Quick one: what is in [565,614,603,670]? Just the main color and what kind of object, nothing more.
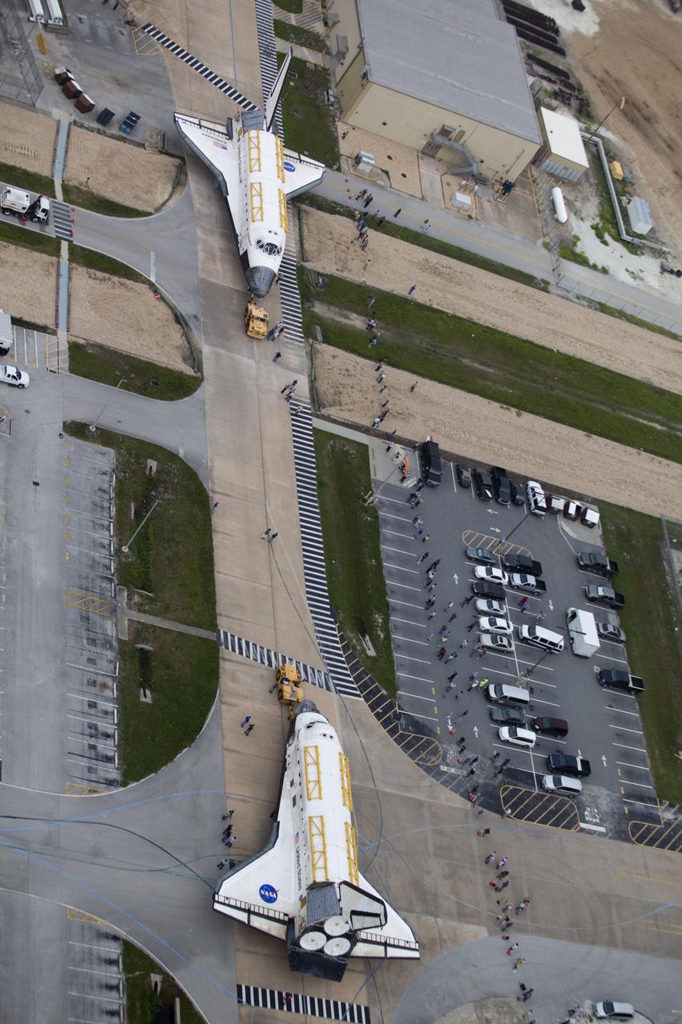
white truck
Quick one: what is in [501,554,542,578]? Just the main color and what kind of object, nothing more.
black truck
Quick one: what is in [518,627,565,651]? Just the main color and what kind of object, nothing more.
white vehicle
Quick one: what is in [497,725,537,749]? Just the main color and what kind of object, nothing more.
white car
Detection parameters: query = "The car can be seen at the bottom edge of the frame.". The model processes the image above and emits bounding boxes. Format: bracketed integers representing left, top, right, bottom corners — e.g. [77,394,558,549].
[593,998,635,1023]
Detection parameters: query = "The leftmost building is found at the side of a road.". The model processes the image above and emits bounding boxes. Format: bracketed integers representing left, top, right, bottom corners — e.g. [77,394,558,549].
[318,0,546,182]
